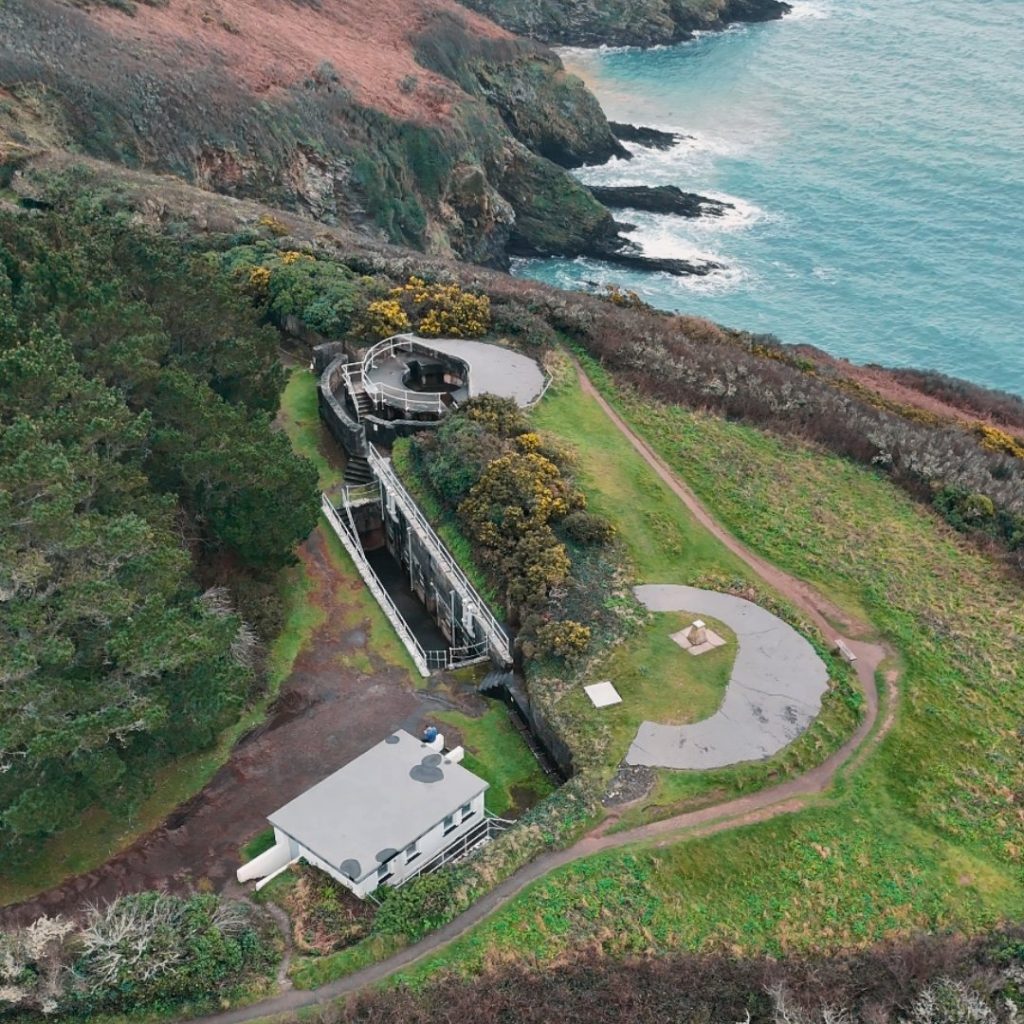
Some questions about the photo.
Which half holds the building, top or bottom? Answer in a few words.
bottom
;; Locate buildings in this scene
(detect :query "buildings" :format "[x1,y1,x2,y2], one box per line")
[238,729,486,908]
